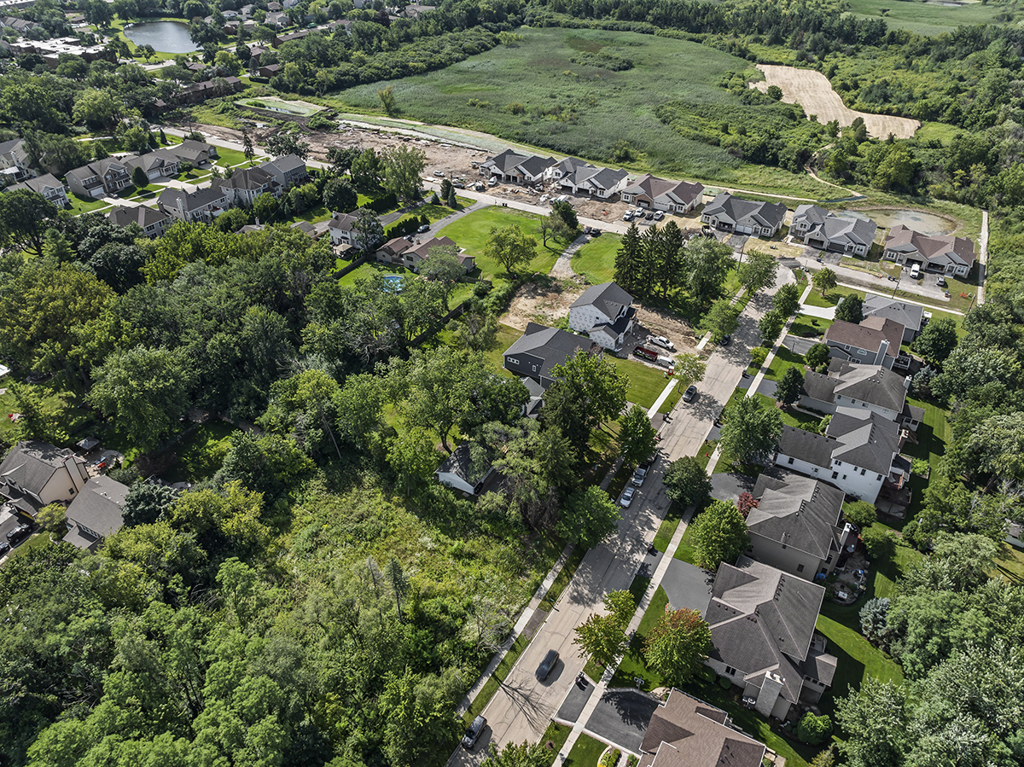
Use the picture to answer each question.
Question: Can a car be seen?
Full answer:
Yes, the frame does contain a car.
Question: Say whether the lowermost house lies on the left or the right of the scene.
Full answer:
The lowermost house is on the right side of the image.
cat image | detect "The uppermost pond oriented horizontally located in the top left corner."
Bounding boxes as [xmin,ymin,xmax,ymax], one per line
[125,21,198,52]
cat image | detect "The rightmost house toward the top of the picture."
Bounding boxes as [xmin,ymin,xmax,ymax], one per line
[884,219,977,278]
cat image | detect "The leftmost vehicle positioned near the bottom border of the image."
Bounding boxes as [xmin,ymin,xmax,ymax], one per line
[462,713,487,746]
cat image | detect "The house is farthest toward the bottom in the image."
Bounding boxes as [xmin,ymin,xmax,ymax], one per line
[639,684,767,767]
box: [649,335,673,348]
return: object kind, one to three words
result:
vehicle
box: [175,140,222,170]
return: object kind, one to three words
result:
house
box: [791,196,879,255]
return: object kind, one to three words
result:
house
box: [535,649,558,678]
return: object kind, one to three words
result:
car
